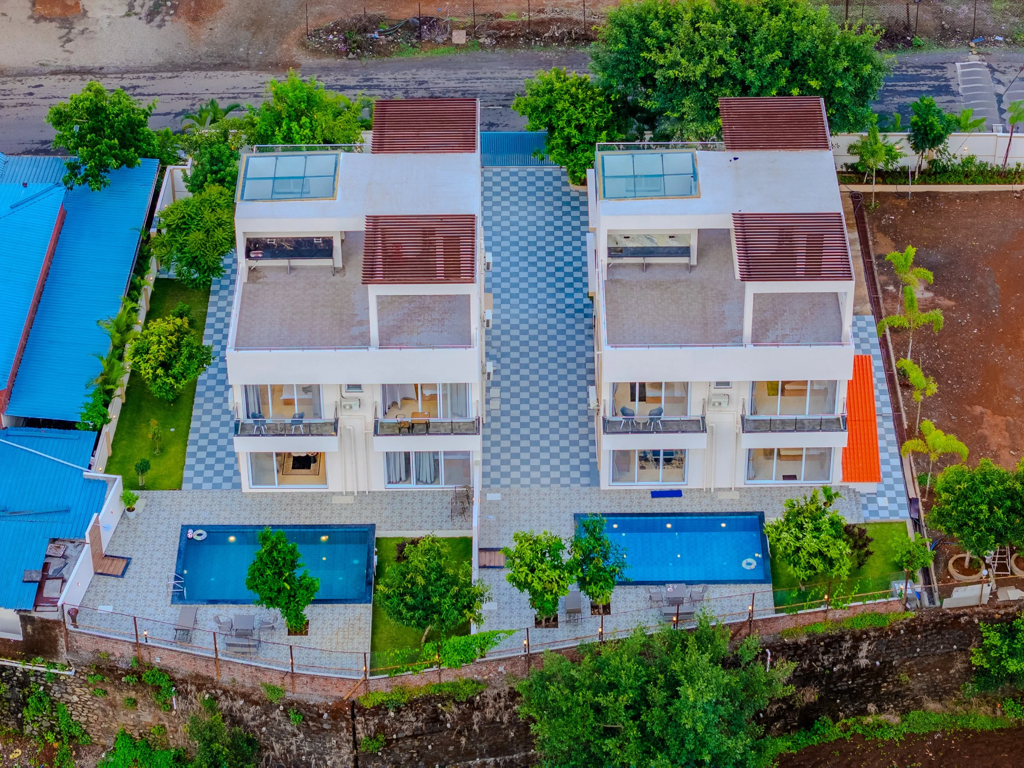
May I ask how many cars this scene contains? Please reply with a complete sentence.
The count of cars is 0.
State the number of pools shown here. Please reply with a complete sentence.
I count 2 pools.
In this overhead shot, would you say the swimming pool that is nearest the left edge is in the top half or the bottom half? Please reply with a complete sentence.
It is in the bottom half that the swimming pool that is nearest the left edge appears.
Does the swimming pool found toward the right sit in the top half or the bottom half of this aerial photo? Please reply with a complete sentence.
The swimming pool found toward the right is in the bottom half of the image.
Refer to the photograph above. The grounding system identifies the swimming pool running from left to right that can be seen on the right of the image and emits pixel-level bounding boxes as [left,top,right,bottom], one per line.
[574,511,772,585]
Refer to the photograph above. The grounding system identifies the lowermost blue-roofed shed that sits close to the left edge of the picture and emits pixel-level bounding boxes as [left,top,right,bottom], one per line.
[0,411,107,665]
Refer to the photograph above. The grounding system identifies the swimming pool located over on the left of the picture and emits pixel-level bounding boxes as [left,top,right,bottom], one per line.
[171,523,376,606]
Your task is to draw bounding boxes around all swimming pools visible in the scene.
[574,511,772,585]
[171,523,376,606]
